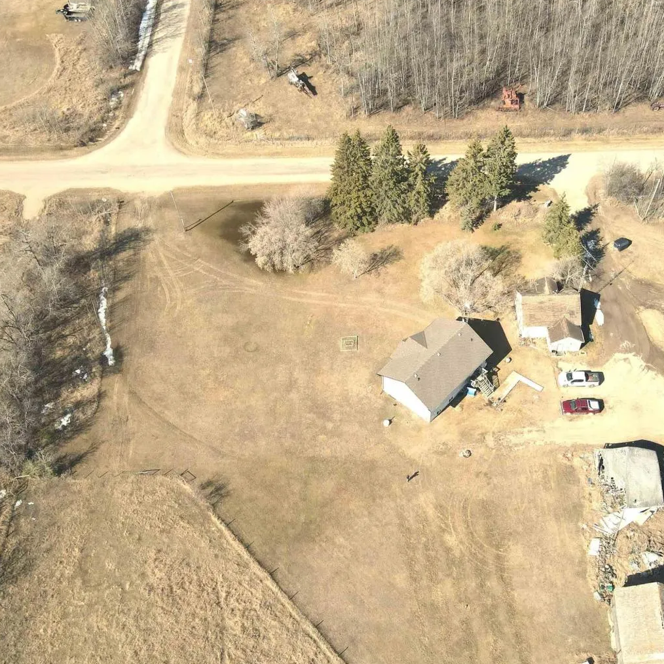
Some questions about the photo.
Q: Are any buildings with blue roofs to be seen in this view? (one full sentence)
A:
No, there is no building with a blue roof in the image.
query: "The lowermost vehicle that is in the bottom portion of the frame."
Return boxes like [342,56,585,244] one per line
[560,397,605,415]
